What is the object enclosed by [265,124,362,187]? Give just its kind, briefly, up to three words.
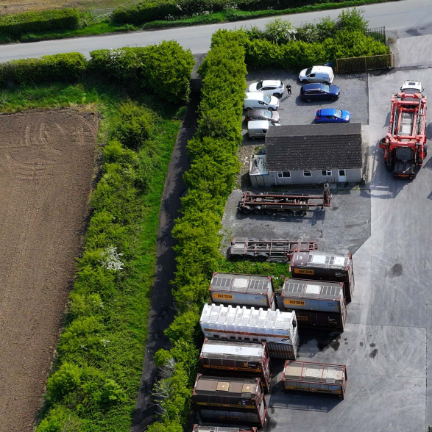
building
